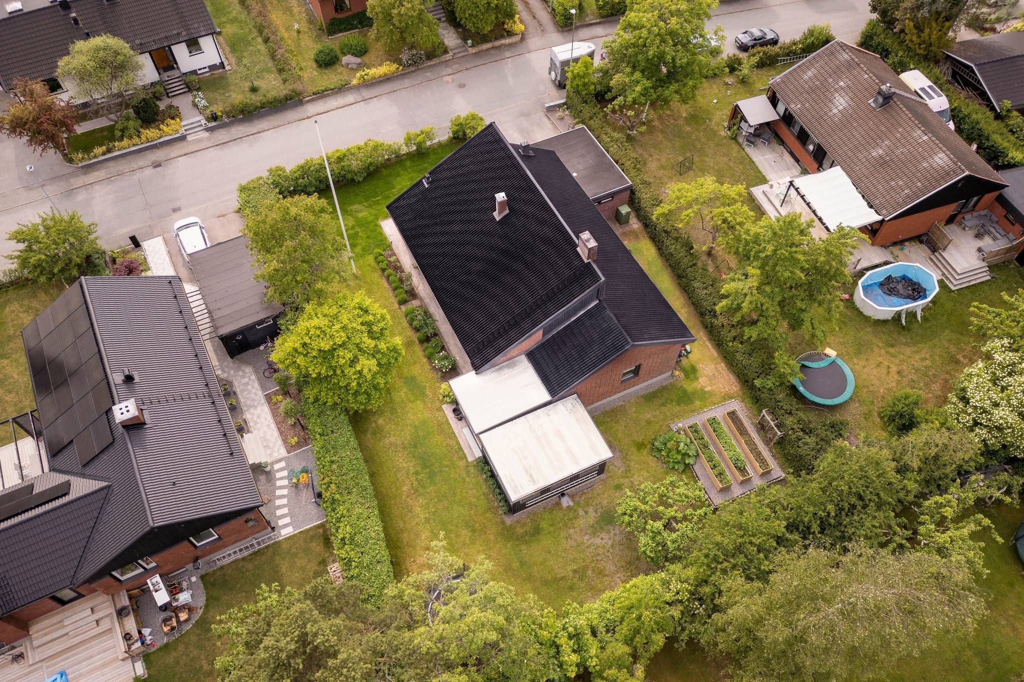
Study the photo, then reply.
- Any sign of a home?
Yes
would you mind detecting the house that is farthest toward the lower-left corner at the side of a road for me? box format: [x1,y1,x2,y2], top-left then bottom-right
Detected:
[0,273,278,643]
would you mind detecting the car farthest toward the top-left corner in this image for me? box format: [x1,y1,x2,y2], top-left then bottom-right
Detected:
[173,217,213,270]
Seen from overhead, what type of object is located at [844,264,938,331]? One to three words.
swimming pool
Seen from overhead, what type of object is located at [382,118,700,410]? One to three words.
house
